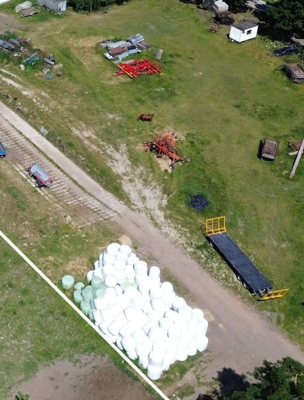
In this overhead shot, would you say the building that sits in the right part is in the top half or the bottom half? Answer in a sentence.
It is in the top half that the building that sits in the right part appears.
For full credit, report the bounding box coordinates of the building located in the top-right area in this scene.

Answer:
[229,12,261,37]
